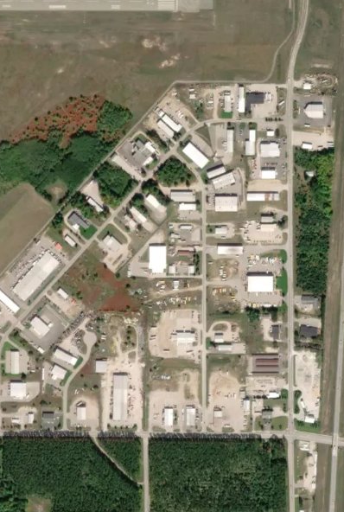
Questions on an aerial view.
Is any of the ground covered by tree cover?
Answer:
Yes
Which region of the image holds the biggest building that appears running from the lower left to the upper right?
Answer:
left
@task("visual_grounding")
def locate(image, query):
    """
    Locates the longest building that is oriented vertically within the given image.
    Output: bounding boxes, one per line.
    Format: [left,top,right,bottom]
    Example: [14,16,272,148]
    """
[114,376,128,421]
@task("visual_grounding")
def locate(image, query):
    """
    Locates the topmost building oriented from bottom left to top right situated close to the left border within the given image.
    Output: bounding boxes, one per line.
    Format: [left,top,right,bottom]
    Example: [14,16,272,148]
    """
[12,252,59,301]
